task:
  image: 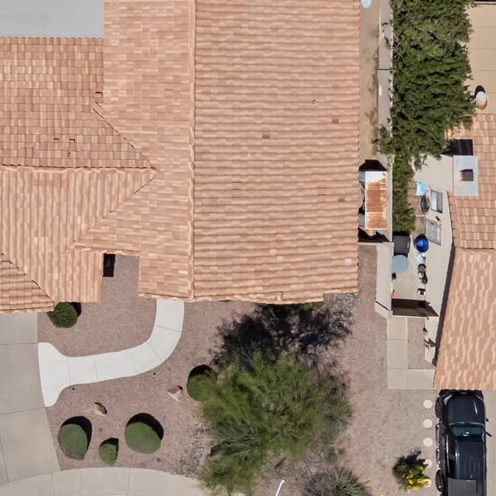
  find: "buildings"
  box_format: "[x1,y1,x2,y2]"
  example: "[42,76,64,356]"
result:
[420,1,496,392]
[0,0,362,311]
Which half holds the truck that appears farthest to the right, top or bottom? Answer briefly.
bottom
